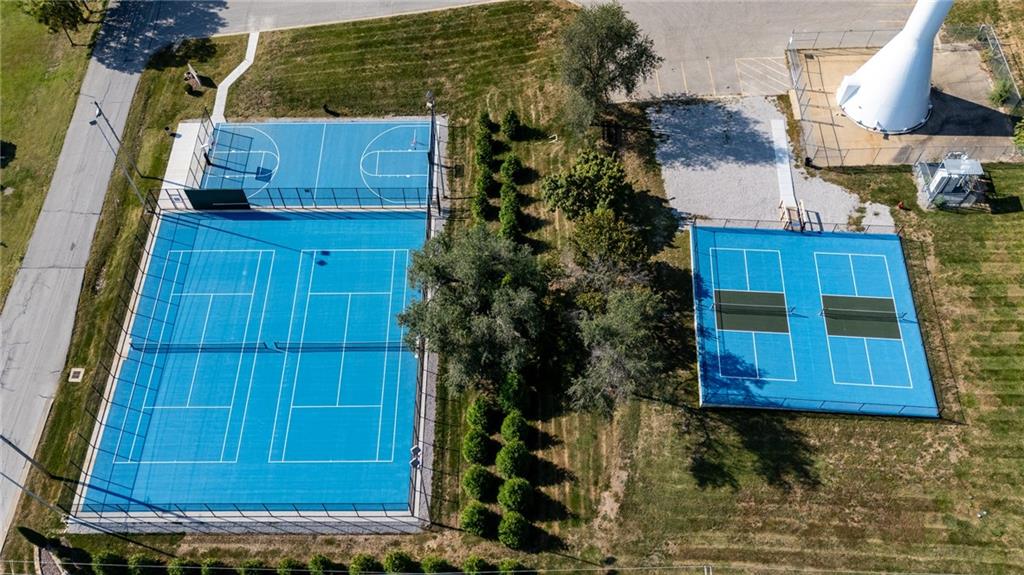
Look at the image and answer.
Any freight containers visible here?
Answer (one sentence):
No, there's no freight container here.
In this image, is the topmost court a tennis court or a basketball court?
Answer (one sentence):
I'd identify the topmost court as a basketball court.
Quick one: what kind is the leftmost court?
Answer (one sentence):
The leftmost court in the image is a tennis court.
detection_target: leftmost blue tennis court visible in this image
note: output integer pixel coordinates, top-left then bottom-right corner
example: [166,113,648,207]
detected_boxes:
[85,209,294,512]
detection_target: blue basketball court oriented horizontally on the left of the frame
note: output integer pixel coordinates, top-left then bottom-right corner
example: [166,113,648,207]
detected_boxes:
[163,122,430,211]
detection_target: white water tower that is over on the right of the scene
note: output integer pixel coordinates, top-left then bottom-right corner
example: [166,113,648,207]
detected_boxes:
[834,0,953,138]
